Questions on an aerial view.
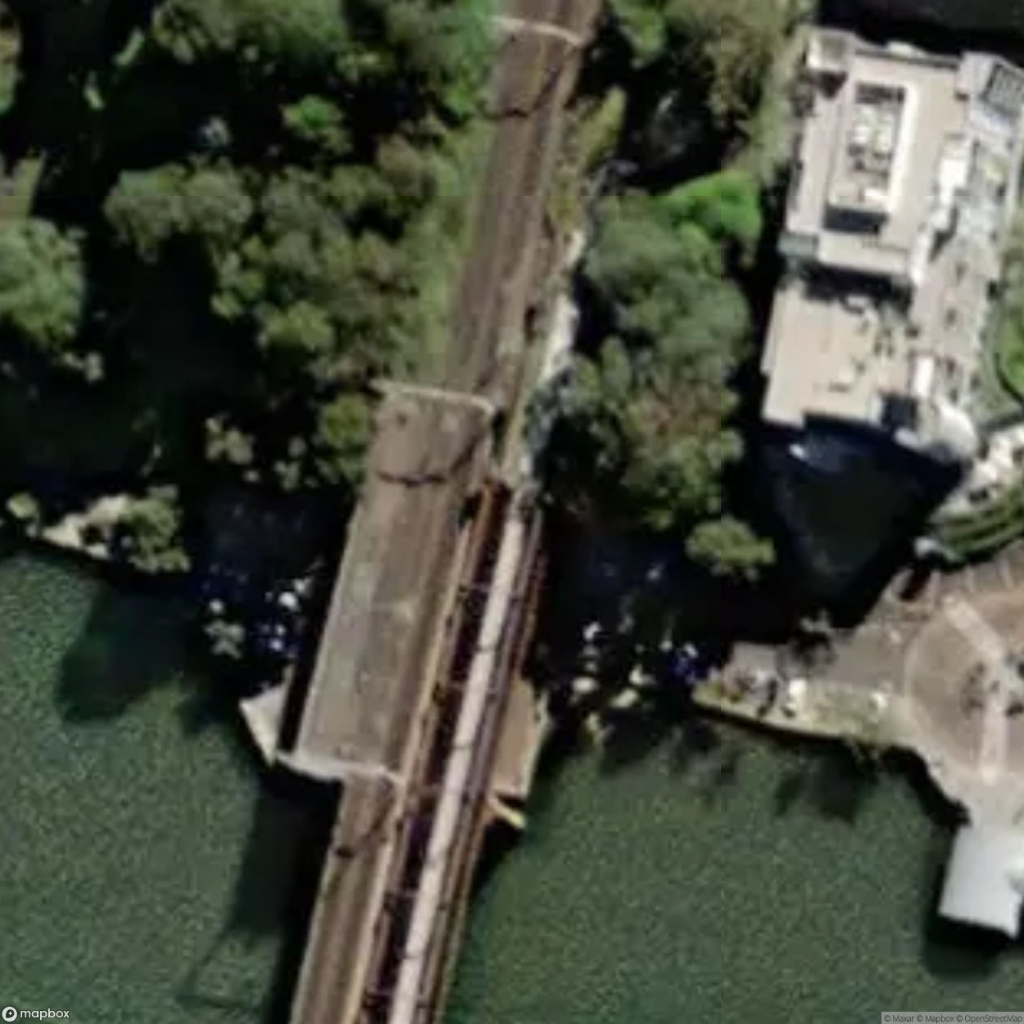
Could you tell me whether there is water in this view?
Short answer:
Yes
